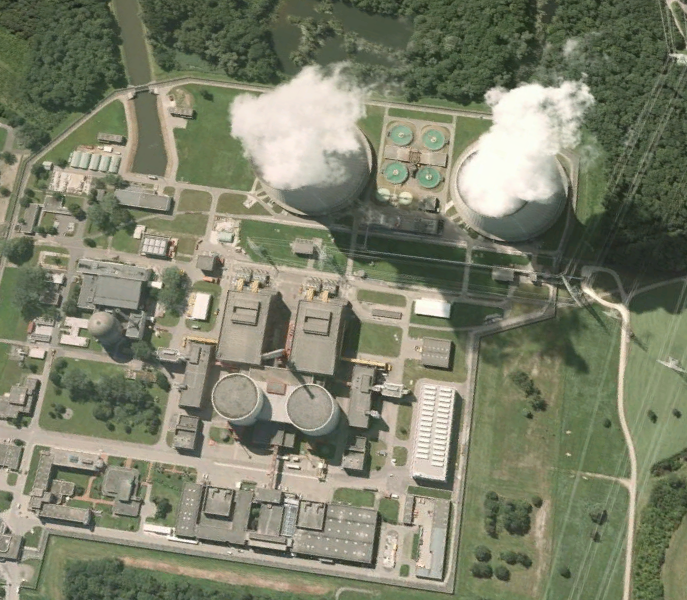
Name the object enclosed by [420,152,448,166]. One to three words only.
shed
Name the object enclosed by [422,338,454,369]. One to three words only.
building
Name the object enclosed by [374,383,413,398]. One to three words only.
house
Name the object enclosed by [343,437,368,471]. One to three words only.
building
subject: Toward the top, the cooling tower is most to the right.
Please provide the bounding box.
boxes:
[454,129,567,242]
